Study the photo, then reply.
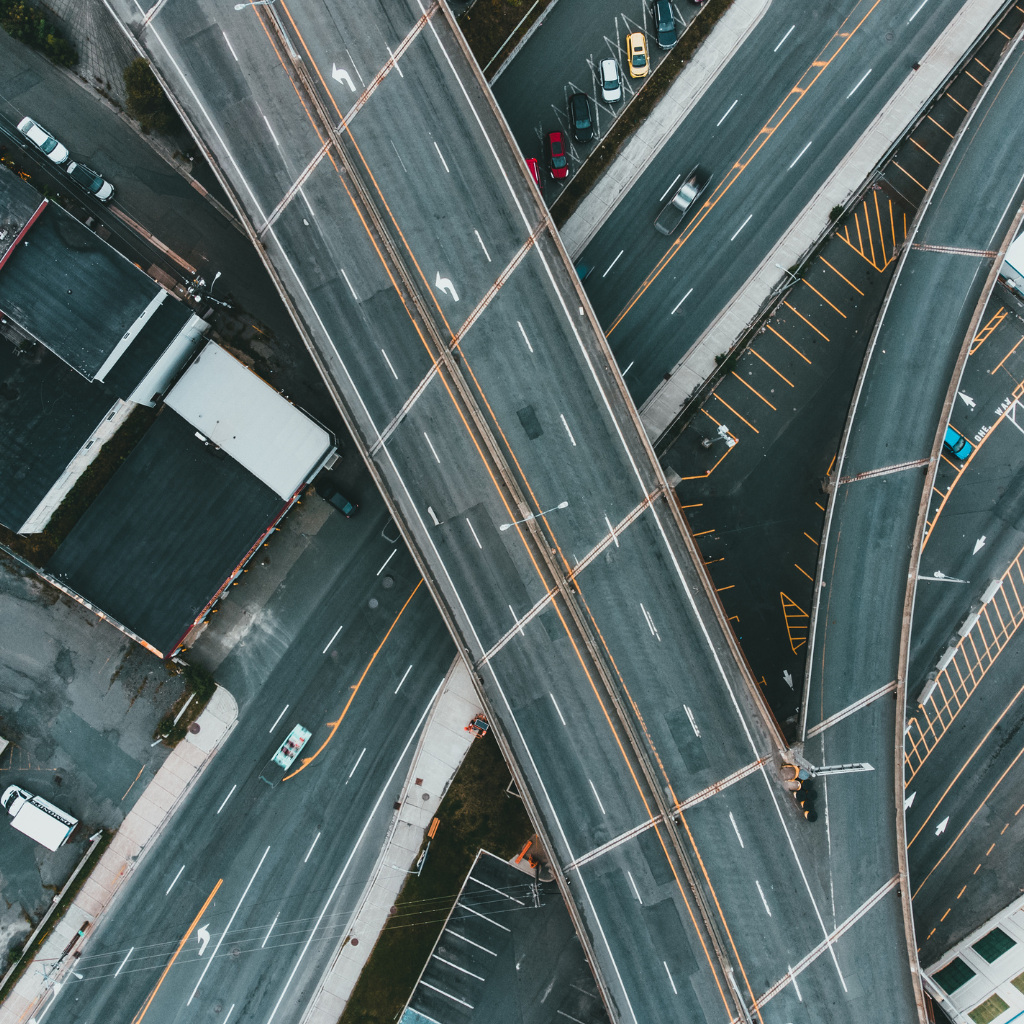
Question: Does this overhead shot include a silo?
No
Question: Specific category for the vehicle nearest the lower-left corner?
truck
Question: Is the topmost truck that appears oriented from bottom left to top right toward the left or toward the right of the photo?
right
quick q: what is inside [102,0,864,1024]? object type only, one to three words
overpass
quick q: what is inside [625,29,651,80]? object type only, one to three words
car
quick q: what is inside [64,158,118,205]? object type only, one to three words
car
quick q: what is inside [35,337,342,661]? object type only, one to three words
building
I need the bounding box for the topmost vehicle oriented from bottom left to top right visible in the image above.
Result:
[655,164,711,236]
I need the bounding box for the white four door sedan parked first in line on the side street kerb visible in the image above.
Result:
[15,115,70,167]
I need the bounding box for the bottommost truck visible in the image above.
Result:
[2,783,84,851]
